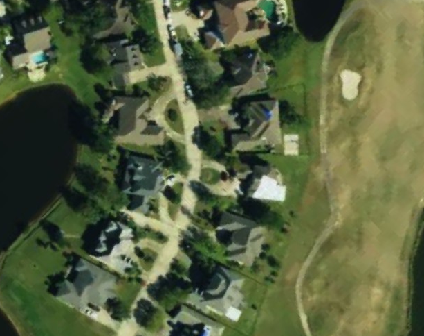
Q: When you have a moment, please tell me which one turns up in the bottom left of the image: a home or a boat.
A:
home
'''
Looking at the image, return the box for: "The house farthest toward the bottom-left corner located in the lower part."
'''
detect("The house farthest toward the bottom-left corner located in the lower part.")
[54,255,123,314]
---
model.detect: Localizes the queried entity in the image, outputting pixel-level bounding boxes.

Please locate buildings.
[92,0,141,40]
[216,207,269,268]
[111,94,164,146]
[170,302,228,336]
[189,260,251,316]
[224,44,274,99]
[104,40,143,92]
[54,255,123,314]
[87,212,142,267]
[8,11,55,72]
[199,0,271,52]
[120,154,168,214]
[228,98,281,152]
[242,160,288,202]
